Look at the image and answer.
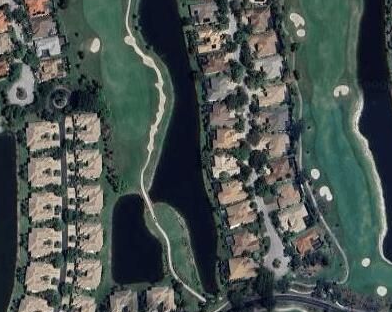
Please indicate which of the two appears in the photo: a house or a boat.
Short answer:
house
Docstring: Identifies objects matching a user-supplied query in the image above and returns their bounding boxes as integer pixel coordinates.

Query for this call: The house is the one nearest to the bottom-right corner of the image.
[291,229,323,256]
